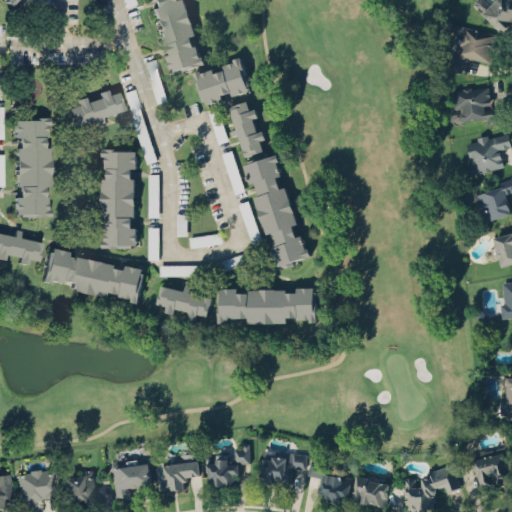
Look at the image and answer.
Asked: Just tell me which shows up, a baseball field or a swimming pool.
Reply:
swimming pool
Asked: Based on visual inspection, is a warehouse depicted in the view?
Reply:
No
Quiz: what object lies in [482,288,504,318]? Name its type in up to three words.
swimming pool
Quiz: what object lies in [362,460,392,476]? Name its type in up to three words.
swimming pool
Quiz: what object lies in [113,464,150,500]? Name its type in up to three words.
house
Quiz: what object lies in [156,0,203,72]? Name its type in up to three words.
building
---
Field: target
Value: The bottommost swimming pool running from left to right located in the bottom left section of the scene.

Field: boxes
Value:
[21,461,50,473]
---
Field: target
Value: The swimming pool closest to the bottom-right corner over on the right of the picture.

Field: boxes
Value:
[478,433,504,450]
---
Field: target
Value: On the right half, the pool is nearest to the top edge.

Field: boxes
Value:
[469,234,497,264]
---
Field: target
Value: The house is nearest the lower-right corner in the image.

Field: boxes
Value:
[476,453,508,488]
